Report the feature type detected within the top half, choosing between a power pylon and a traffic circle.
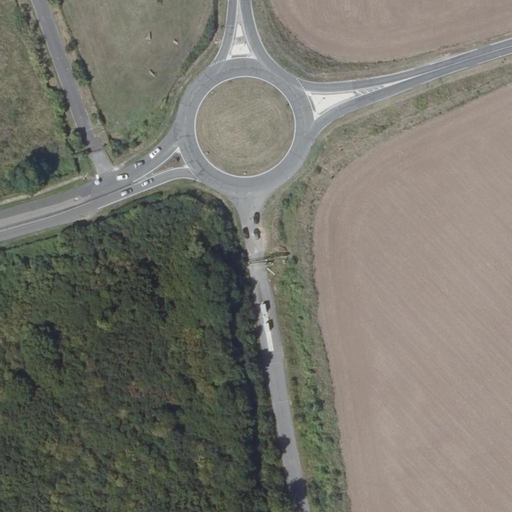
traffic circle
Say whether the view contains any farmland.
Yes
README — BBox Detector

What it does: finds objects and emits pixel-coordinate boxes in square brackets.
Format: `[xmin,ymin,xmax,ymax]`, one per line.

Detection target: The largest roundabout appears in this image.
[141,19,356,196]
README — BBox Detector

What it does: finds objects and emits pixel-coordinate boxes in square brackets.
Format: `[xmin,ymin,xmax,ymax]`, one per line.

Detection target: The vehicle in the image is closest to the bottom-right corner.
[260,302,274,352]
